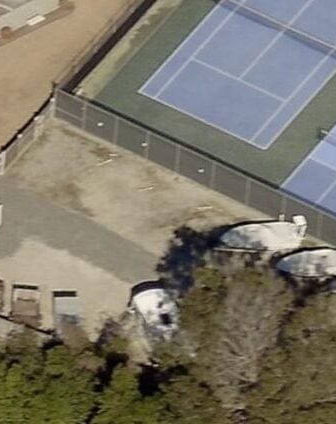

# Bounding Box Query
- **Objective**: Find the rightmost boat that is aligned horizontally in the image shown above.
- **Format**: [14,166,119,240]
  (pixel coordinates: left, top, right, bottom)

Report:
[275,249,336,277]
